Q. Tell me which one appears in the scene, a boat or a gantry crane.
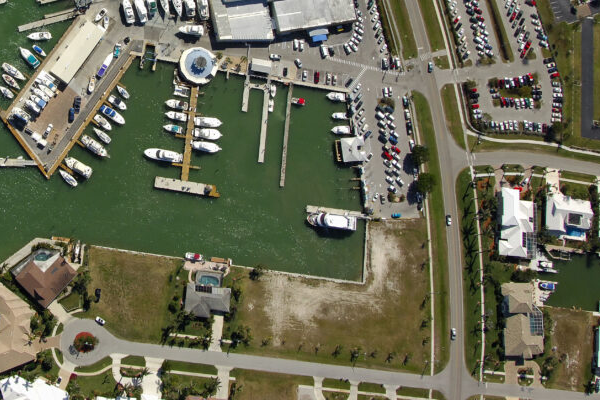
boat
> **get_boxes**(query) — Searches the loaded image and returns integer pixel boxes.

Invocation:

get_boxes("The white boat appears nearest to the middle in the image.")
[308,213,359,229]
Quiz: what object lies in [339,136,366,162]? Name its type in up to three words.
house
